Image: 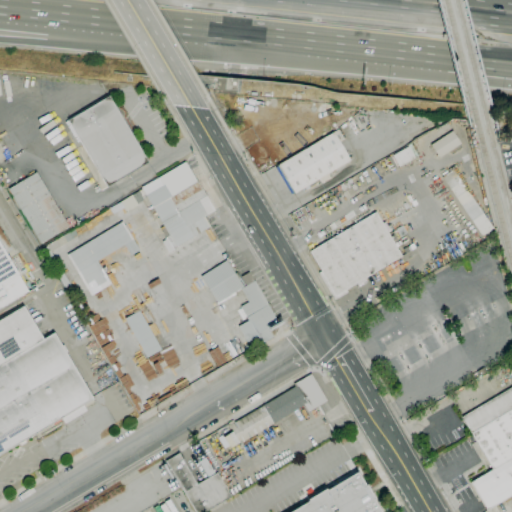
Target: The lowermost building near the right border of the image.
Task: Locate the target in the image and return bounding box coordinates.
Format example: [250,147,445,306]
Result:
[470,456,512,510]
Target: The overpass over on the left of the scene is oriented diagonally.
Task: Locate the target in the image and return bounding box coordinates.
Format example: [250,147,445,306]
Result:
[105,0,230,128]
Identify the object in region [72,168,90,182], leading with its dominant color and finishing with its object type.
white vehicle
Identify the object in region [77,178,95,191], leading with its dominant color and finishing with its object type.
white vehicle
